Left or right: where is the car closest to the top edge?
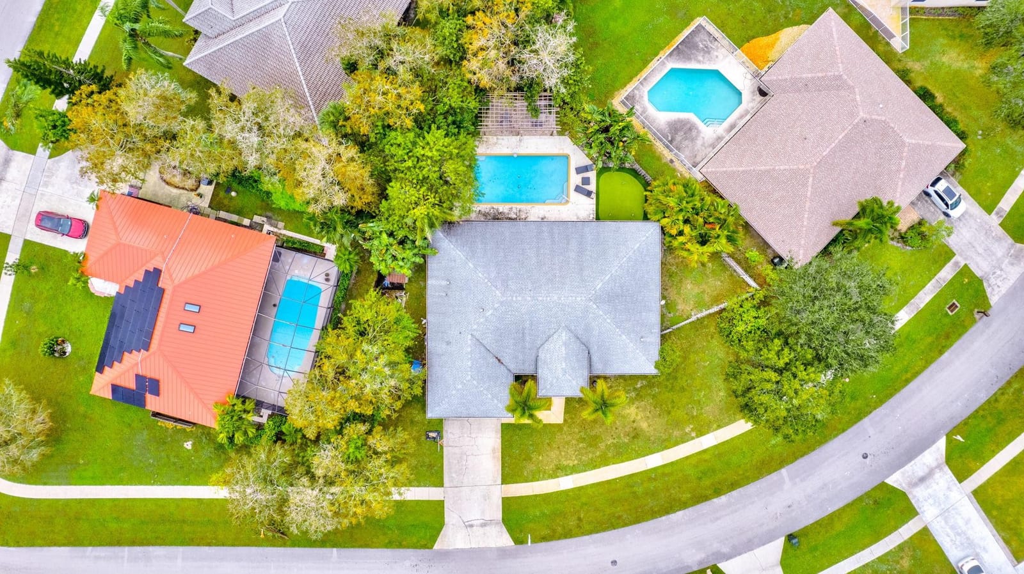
right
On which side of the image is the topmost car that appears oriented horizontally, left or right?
left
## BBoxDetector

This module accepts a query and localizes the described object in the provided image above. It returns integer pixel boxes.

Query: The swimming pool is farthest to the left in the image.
[267,278,322,377]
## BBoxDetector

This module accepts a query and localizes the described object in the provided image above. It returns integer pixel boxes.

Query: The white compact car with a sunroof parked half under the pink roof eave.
[925,173,970,222]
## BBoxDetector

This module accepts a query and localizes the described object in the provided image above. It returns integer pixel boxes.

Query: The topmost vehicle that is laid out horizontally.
[28,208,85,240]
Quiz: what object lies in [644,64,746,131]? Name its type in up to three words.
swimming pool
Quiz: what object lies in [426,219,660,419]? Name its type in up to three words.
house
